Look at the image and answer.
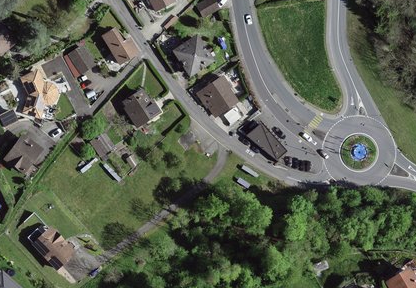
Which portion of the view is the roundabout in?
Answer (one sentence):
The roundabout is located in the right region of the scene.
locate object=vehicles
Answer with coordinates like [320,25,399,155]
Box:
[238,126,248,135]
[84,90,98,99]
[300,160,305,170]
[286,156,291,166]
[248,120,258,129]
[302,132,314,142]
[80,80,92,88]
[306,160,311,172]
[292,157,298,170]
[246,14,252,26]
[238,136,250,146]
[320,150,330,160]
[250,144,260,153]
[274,126,284,138]
[50,128,62,138]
